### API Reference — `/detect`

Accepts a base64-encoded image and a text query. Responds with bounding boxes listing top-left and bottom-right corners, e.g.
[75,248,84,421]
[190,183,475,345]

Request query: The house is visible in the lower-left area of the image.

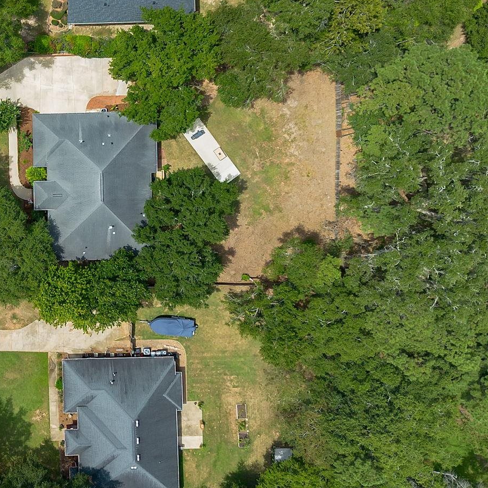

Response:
[61,356,183,488]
